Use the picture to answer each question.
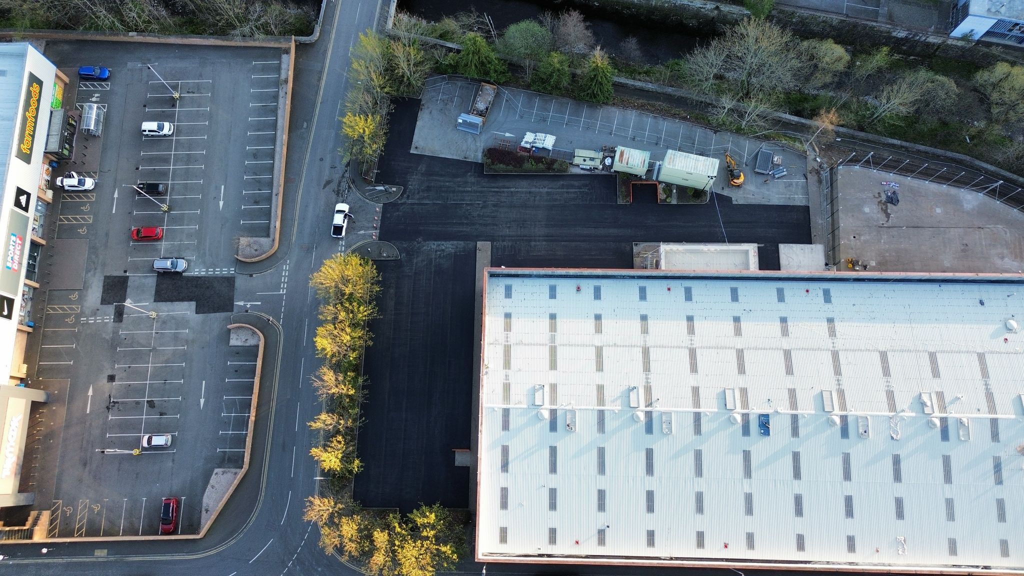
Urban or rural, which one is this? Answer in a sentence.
This place is urban.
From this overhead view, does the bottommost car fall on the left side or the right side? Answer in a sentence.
The bottommost car appears in the left half of the scene.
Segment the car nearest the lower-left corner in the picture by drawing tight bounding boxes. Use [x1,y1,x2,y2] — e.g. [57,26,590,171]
[159,497,179,532]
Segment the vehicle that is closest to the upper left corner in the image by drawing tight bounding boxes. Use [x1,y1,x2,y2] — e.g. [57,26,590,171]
[78,66,112,81]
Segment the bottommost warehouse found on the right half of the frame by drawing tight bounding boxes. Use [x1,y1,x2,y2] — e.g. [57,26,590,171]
[476,268,1024,564]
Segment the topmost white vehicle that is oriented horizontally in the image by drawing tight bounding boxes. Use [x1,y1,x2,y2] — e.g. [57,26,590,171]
[140,121,174,136]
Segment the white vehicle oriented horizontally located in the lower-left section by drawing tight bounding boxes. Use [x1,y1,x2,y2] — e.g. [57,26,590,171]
[141,433,173,448]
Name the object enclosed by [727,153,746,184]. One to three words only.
work vehicle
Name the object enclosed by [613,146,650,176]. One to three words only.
building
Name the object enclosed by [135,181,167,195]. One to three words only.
car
